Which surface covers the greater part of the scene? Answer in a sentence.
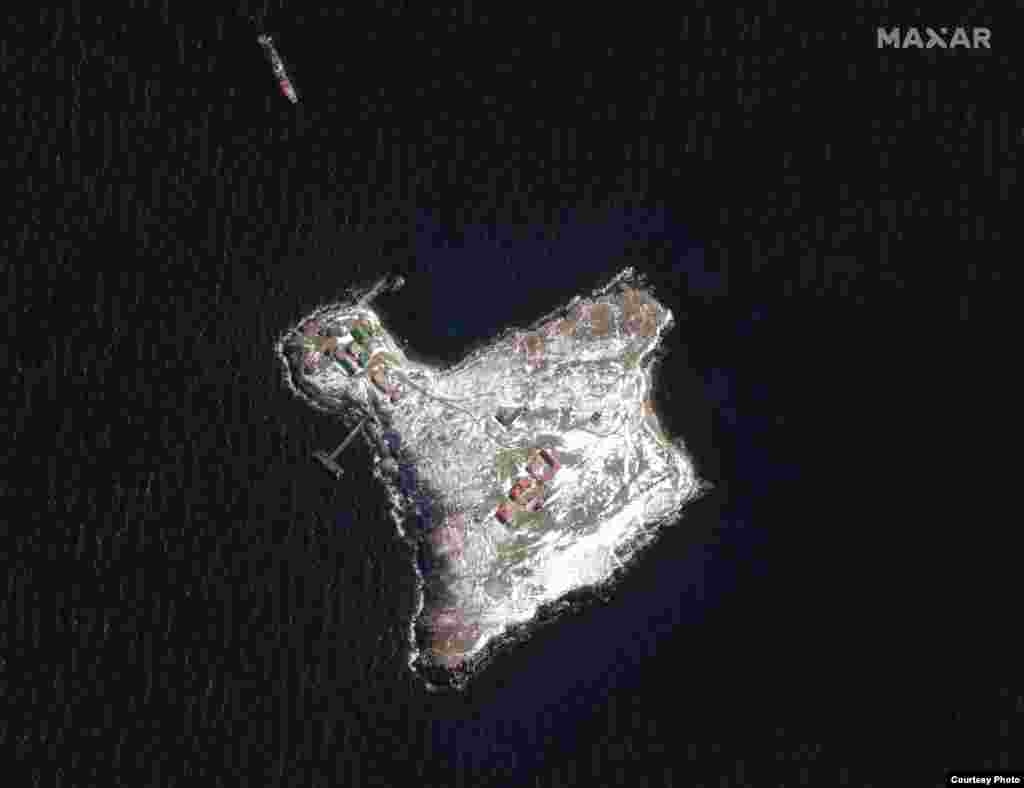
For the most part, this view shows water.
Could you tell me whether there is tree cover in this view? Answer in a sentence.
No, there is no tree cover in the image.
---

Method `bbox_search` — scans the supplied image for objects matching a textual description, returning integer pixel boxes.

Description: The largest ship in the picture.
[269,45,299,104]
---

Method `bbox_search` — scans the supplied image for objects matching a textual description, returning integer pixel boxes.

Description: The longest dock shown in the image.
[312,417,367,474]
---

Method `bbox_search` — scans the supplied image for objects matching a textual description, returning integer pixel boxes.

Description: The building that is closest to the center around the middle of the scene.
[490,404,522,430]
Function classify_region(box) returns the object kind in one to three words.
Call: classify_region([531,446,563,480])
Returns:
building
